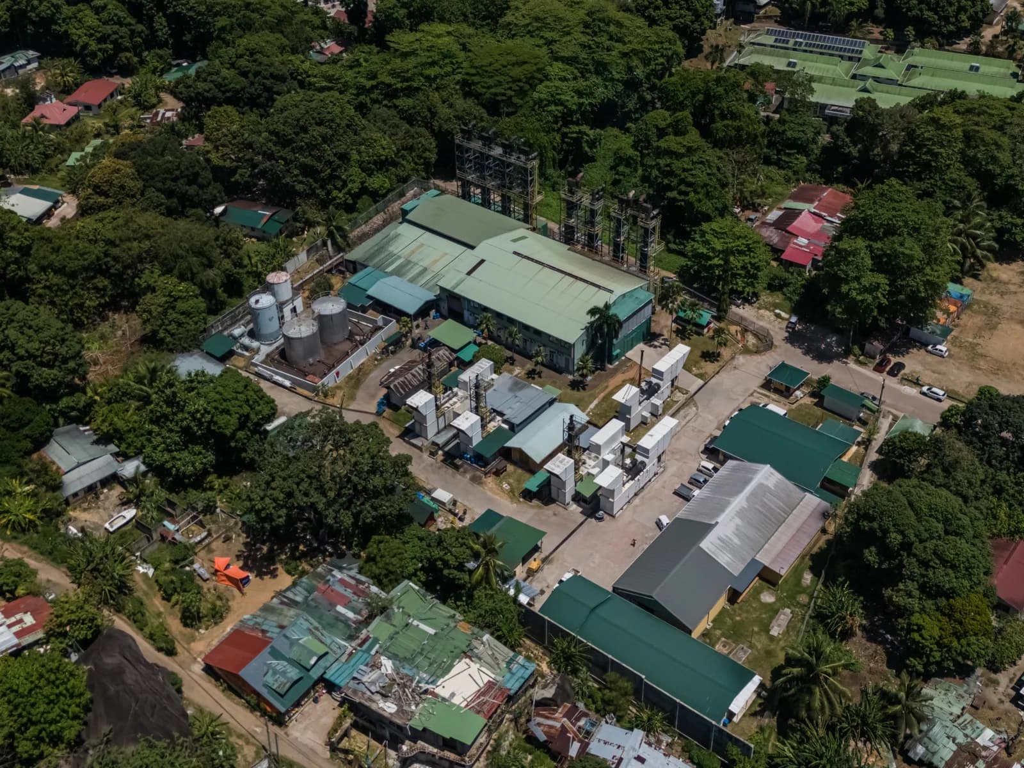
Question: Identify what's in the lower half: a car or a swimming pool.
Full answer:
There is a car in the lower half.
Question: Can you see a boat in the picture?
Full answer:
Yes, the picture does show a boat.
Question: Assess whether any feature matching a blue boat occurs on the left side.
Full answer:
No, on the left side there is no blue boat.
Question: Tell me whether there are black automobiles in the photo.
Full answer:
Yes, the frame does contain a black automobile.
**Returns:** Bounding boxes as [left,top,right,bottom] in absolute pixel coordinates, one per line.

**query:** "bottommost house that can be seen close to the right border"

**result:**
[902,712,1016,768]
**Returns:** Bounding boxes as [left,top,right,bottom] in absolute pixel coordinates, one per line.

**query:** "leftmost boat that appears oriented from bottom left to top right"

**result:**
[100,507,138,534]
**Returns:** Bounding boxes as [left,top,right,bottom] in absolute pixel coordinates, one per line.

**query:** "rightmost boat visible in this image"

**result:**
[186,529,210,545]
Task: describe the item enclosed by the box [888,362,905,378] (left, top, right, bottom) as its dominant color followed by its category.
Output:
black car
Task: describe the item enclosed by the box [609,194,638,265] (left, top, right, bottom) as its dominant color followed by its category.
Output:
black chimney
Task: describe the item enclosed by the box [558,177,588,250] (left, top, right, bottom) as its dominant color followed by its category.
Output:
black chimney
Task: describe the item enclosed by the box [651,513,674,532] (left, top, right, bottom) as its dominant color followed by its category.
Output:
white car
